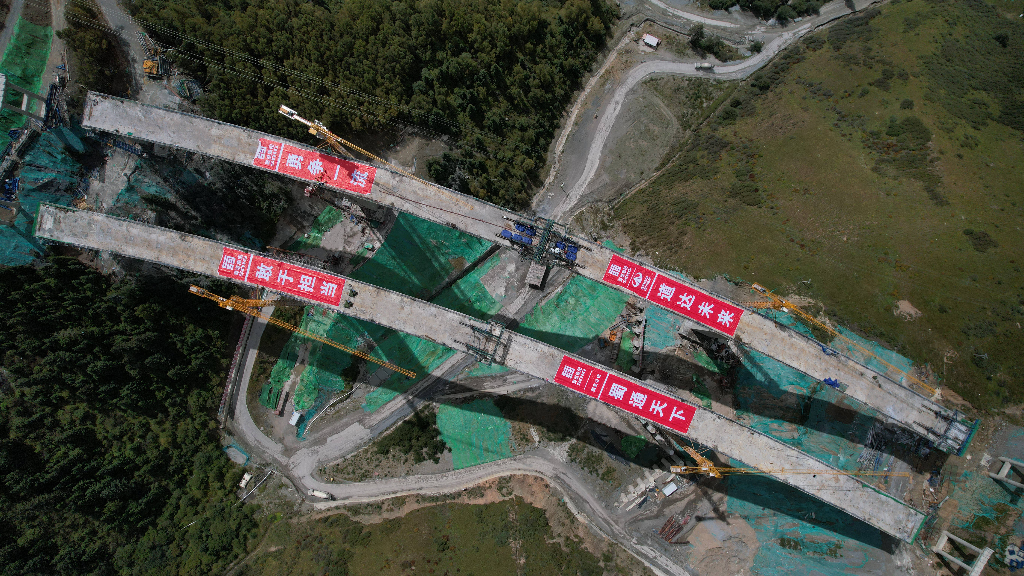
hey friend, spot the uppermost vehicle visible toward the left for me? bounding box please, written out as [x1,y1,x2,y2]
[273,391,286,415]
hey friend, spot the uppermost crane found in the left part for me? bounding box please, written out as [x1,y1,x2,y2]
[276,104,475,212]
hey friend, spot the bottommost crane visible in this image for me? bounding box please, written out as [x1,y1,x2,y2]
[650,422,910,479]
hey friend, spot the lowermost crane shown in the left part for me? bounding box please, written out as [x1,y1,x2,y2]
[189,280,418,378]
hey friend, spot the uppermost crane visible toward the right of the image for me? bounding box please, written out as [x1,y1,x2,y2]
[731,283,936,396]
